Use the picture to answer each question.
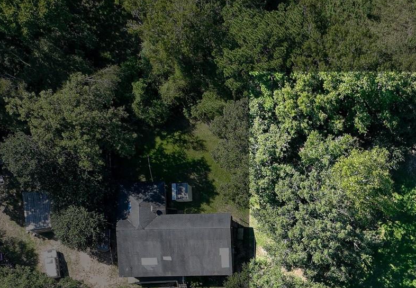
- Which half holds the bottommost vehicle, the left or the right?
left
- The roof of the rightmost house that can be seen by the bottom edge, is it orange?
No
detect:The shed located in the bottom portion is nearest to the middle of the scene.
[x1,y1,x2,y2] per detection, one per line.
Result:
[173,182,194,203]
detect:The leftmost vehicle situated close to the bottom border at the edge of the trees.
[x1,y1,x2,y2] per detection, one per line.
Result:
[44,247,68,284]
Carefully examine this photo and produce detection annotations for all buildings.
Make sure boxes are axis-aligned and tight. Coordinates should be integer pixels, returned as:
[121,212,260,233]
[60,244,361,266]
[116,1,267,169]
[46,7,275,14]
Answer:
[112,183,234,288]
[173,182,194,203]
[22,192,59,233]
